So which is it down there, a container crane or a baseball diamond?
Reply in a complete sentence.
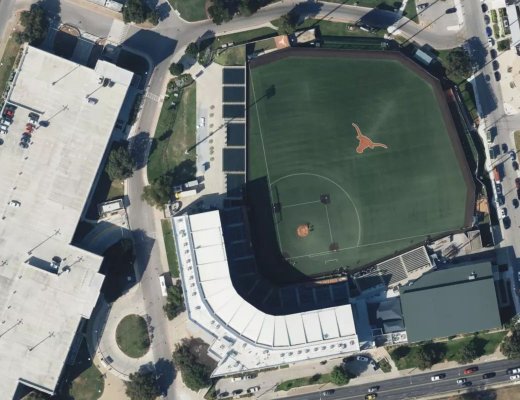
The image shows a baseball diamond.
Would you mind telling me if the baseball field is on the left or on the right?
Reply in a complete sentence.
It is on the right.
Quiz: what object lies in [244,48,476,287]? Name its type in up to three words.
baseball field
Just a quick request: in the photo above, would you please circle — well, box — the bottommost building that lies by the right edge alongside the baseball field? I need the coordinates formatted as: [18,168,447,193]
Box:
[399,262,501,343]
